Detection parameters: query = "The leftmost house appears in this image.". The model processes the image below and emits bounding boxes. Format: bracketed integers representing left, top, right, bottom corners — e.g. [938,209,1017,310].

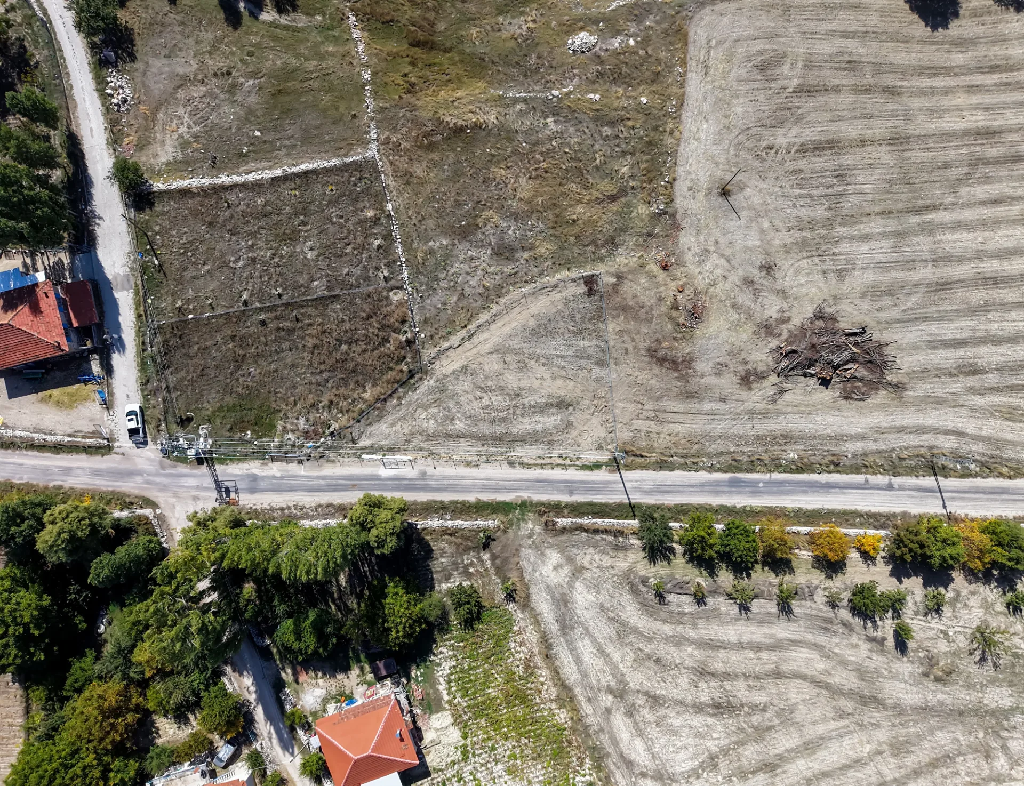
[0,280,79,372]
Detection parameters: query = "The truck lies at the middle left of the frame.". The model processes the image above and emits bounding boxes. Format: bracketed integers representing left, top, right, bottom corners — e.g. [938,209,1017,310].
[125,403,147,444]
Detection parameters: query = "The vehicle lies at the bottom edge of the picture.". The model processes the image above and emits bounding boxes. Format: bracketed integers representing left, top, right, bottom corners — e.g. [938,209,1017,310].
[214,736,238,768]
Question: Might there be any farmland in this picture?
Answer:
Yes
